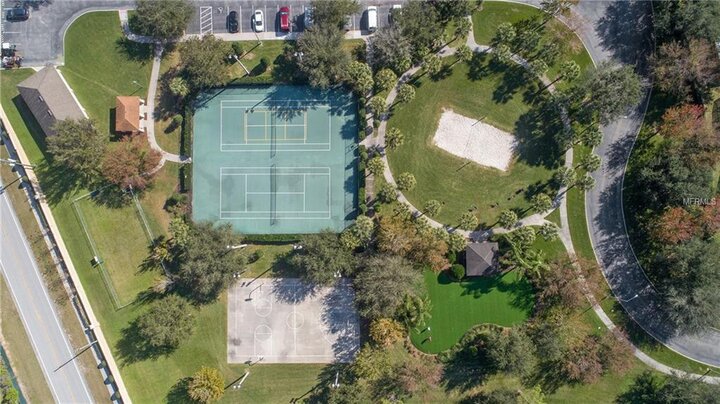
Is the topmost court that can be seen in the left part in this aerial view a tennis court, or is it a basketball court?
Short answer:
tennis court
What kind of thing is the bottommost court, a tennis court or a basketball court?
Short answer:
basketball court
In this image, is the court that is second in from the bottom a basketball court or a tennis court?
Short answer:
tennis court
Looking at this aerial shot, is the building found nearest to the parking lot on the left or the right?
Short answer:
left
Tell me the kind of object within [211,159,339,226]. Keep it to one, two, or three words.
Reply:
tennis court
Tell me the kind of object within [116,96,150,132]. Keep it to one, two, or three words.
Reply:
building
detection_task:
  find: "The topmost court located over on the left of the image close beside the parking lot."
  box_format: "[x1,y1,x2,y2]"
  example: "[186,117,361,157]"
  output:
[211,92,339,159]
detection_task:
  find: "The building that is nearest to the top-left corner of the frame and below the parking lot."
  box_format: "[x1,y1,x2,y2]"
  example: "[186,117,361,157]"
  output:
[17,66,86,145]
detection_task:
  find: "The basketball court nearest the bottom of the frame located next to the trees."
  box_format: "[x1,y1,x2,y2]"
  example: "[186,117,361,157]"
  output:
[228,278,361,363]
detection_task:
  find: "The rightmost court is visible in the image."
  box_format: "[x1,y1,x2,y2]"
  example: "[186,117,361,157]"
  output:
[434,109,518,171]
